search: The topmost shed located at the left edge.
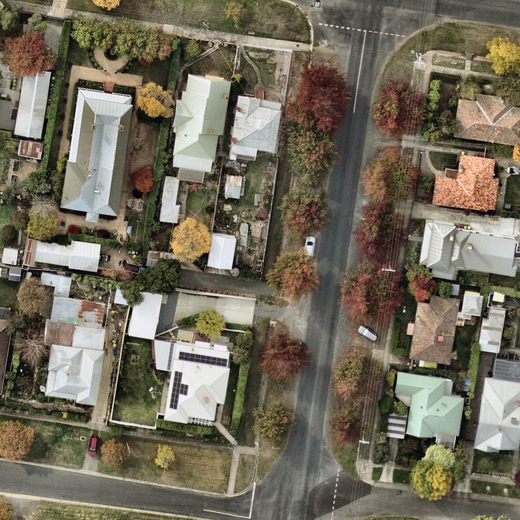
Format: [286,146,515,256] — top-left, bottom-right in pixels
[13,71,51,139]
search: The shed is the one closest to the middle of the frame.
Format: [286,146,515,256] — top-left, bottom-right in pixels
[208,234,237,270]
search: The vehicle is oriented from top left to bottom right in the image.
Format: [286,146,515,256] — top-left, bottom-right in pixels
[357,325,378,343]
